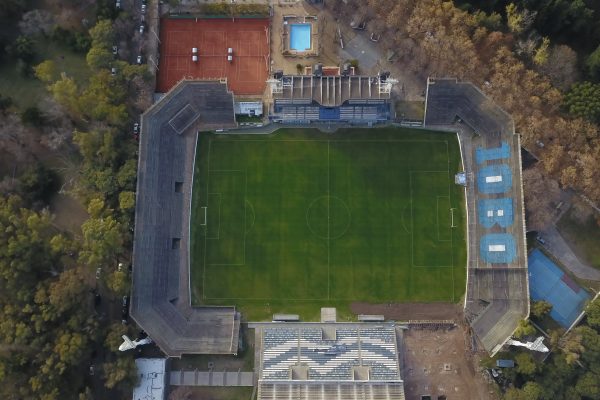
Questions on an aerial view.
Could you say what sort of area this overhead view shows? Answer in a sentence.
This image shows a sports ground.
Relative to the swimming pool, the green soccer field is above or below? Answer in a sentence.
Within the scene, the green soccer field can be found below the swimming pool.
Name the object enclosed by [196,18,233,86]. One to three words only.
tennis court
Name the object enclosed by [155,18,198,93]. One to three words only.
tennis court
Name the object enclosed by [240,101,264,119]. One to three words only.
building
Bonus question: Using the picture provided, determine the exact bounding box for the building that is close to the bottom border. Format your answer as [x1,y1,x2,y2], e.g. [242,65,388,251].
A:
[131,355,171,400]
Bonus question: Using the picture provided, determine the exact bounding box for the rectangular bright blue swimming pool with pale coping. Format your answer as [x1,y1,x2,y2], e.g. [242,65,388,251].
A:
[288,22,313,54]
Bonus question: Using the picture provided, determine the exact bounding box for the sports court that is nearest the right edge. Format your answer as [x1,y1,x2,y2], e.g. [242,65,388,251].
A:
[529,247,591,328]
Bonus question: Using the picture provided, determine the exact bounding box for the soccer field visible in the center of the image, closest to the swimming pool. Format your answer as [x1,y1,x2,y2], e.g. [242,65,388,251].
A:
[191,128,466,322]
